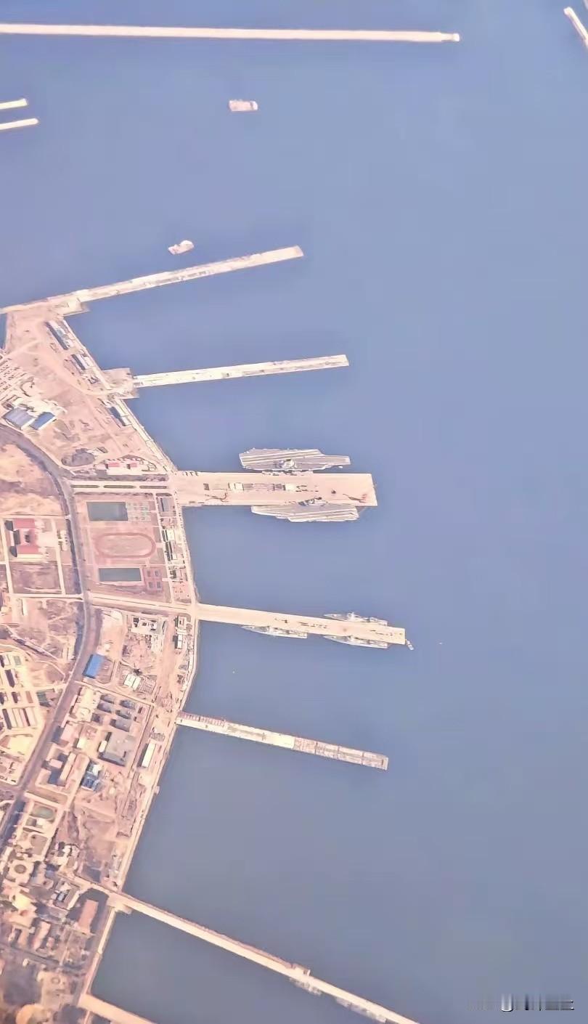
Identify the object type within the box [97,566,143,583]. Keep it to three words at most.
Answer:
sports field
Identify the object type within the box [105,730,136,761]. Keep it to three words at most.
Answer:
building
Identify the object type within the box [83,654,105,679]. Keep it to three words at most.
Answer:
hangar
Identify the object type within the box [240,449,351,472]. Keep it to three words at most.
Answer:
ship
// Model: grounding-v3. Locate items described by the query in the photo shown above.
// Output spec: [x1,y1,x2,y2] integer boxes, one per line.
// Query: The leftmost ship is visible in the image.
[167,238,195,255]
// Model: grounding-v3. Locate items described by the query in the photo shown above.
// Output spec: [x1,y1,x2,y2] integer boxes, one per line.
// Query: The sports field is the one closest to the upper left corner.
[85,501,129,522]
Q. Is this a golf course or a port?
port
